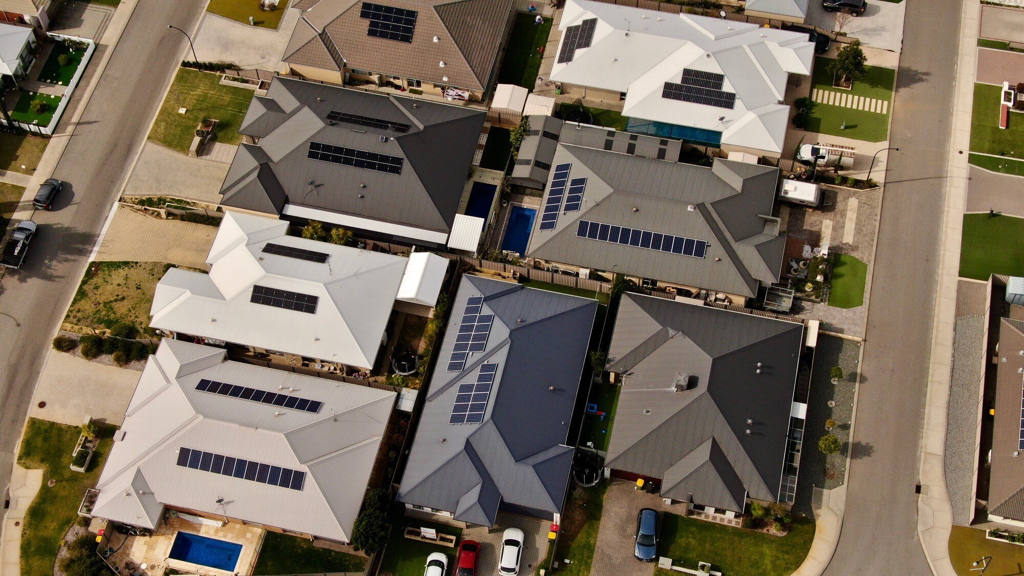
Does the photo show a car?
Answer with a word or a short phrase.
Yes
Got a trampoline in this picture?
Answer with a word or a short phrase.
Yes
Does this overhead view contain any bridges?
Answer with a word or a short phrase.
No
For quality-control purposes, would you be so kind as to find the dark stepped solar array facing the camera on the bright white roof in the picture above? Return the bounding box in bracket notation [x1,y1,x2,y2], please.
[662,69,736,109]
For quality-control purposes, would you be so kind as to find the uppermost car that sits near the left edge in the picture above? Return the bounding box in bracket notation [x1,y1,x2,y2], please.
[33,178,62,210]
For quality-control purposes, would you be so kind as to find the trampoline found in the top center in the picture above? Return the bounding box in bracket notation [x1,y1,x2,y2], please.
[565,90,593,126]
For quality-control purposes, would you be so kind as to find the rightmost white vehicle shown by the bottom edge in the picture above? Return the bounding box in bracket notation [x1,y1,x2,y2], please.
[498,527,526,576]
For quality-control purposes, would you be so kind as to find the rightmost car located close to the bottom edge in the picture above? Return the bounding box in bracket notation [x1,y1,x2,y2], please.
[633,507,660,564]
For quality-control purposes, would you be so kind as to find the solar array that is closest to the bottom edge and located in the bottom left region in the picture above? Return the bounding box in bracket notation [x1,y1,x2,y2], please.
[177,447,306,490]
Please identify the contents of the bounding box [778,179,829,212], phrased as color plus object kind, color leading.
white camper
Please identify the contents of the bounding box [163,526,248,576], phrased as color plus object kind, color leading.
blue swimming pool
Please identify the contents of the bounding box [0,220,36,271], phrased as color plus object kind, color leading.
black truck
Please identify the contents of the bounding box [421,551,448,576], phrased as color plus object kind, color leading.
white car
